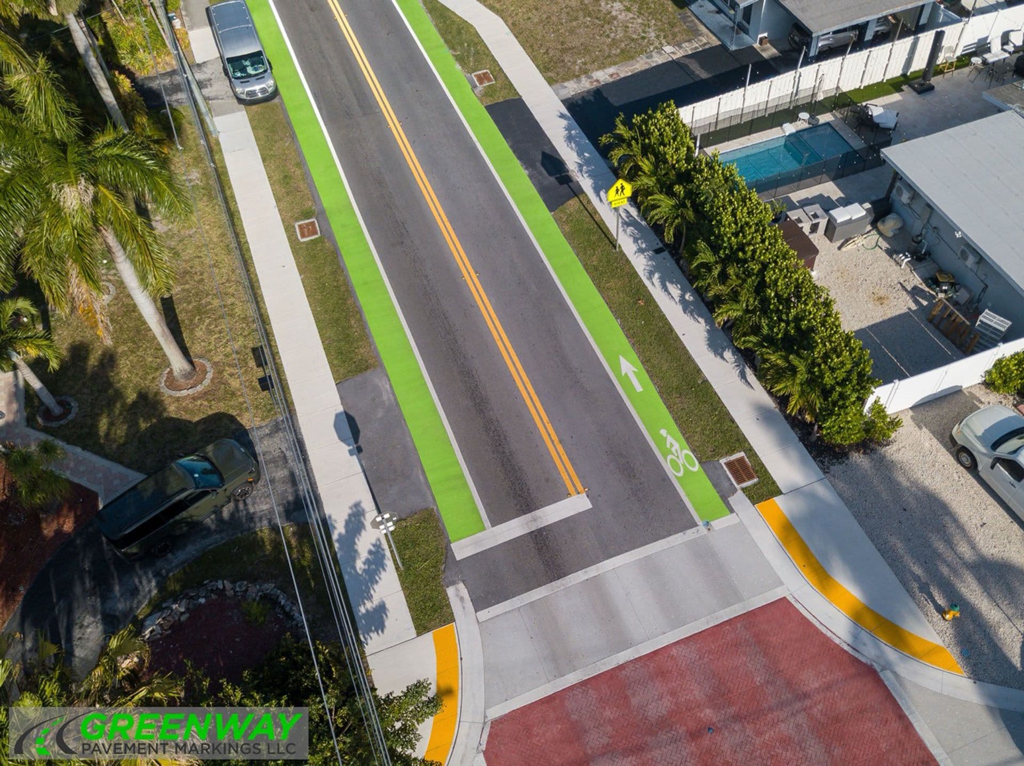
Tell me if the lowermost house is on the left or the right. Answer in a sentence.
It is on the right.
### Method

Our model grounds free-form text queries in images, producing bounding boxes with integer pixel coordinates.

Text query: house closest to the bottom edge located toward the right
[865,78,1024,341]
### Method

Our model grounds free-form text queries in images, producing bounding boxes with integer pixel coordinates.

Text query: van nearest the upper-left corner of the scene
[211,0,279,103]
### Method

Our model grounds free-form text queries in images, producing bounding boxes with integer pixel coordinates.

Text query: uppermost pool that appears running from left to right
[712,114,877,200]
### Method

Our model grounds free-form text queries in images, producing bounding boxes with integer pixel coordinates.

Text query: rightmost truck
[949,412,1024,540]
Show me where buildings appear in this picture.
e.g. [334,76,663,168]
[683,0,938,74]
[865,78,1024,341]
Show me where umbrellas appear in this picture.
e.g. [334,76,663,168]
[808,75,828,123]
[910,31,950,92]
